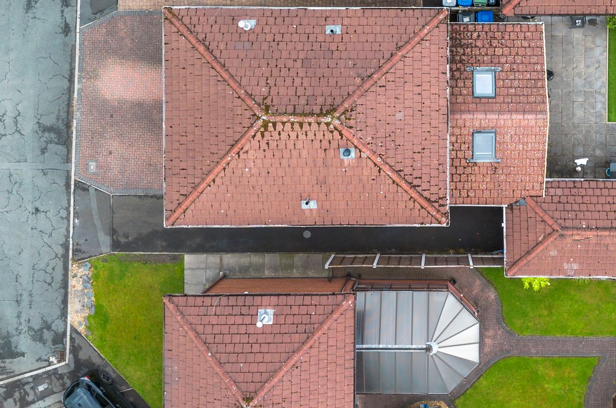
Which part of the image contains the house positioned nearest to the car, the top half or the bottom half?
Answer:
bottom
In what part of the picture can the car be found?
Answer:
bottom left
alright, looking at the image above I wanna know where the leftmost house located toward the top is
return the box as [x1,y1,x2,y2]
[162,5,550,227]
